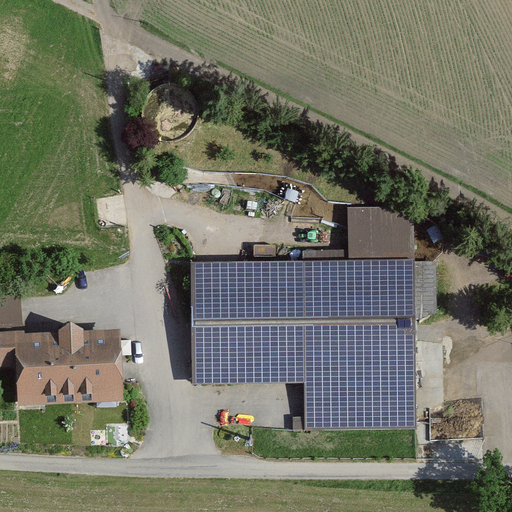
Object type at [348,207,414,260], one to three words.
shed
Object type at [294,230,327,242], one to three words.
vehicle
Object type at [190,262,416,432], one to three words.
barn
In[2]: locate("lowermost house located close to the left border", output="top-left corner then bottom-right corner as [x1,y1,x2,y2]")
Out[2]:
[0,322,124,410]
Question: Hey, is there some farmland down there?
Yes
